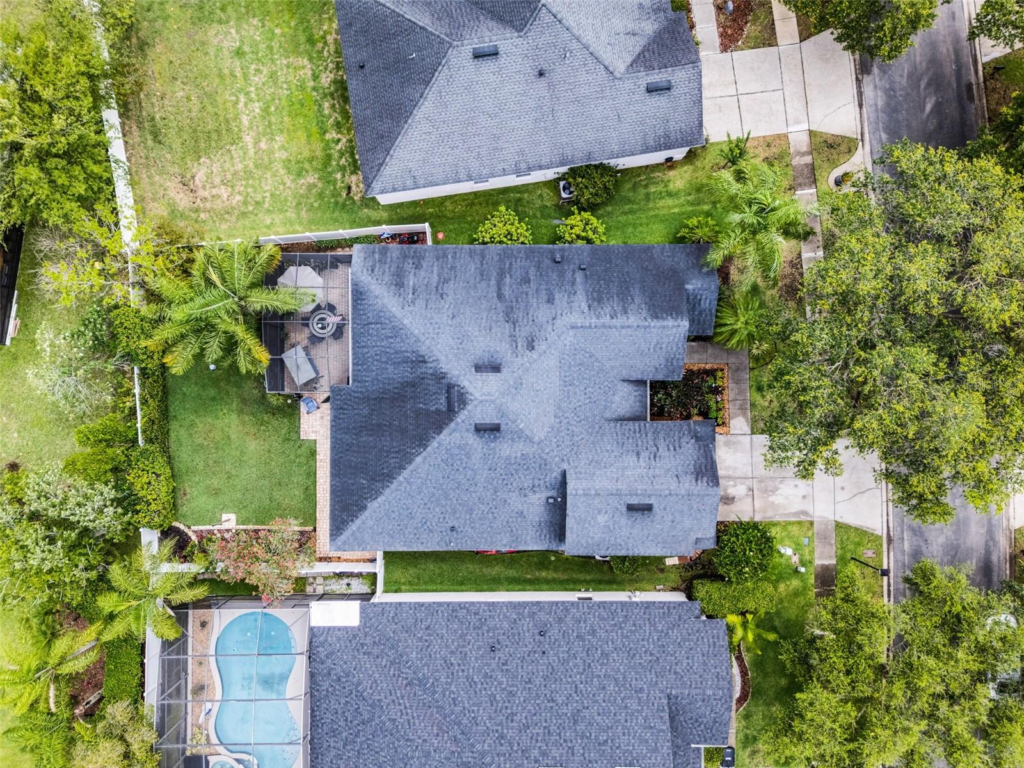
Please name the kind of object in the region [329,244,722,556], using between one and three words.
house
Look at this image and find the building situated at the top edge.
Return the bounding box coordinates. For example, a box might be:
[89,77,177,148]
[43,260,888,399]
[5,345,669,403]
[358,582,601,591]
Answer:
[334,0,705,202]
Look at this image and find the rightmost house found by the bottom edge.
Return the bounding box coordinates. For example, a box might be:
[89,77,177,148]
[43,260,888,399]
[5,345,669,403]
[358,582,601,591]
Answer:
[309,589,736,768]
